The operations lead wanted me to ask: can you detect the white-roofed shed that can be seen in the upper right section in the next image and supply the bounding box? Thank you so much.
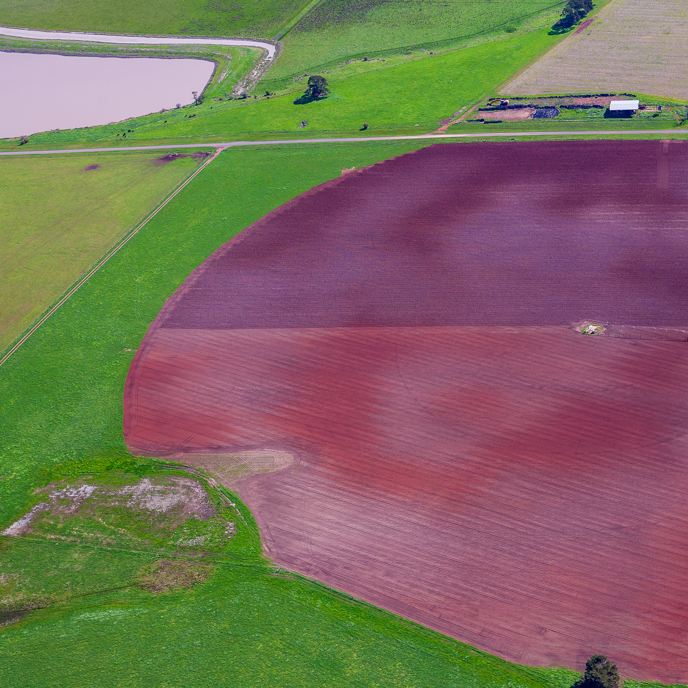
[610,99,640,116]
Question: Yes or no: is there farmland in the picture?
Yes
